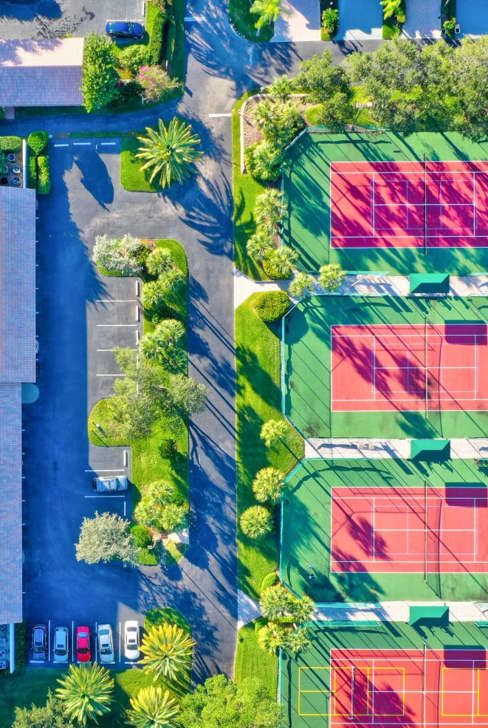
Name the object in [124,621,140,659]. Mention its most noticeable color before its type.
white car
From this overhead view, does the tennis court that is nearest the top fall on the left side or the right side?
right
